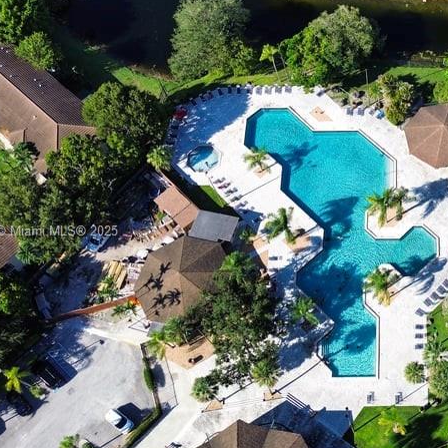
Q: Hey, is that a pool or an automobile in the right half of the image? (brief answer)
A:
pool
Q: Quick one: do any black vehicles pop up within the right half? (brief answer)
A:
No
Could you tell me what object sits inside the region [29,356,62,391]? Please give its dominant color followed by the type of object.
black truck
